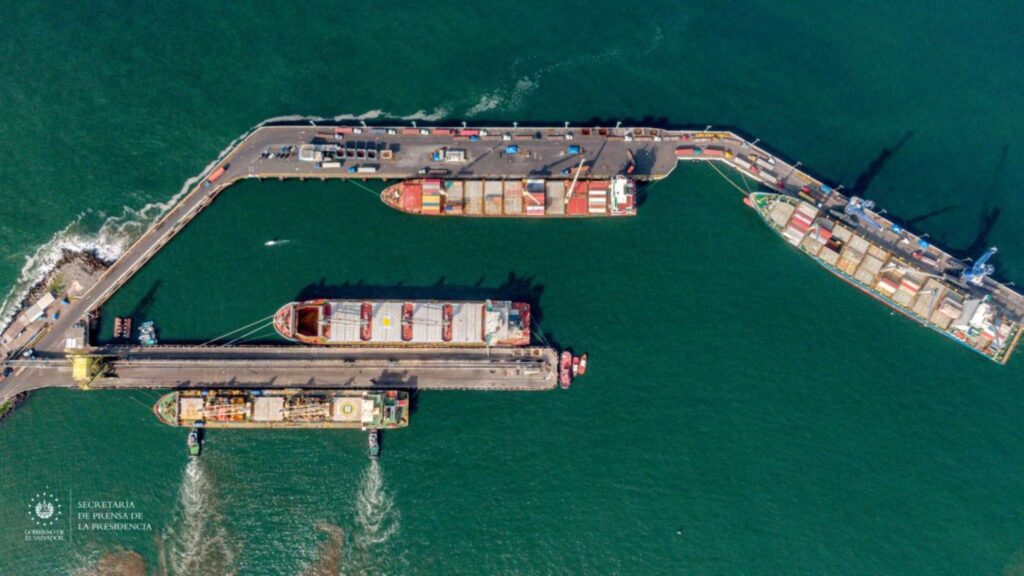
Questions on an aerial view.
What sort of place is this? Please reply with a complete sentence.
This image shows a port.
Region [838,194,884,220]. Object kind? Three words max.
crane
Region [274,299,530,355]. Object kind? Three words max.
ship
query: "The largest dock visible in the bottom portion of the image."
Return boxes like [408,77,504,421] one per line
[87,344,557,391]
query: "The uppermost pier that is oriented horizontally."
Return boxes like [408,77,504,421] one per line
[70,126,1024,331]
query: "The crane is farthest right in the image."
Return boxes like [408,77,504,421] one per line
[955,247,1009,290]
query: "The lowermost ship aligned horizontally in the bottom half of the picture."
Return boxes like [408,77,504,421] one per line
[151,390,409,430]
